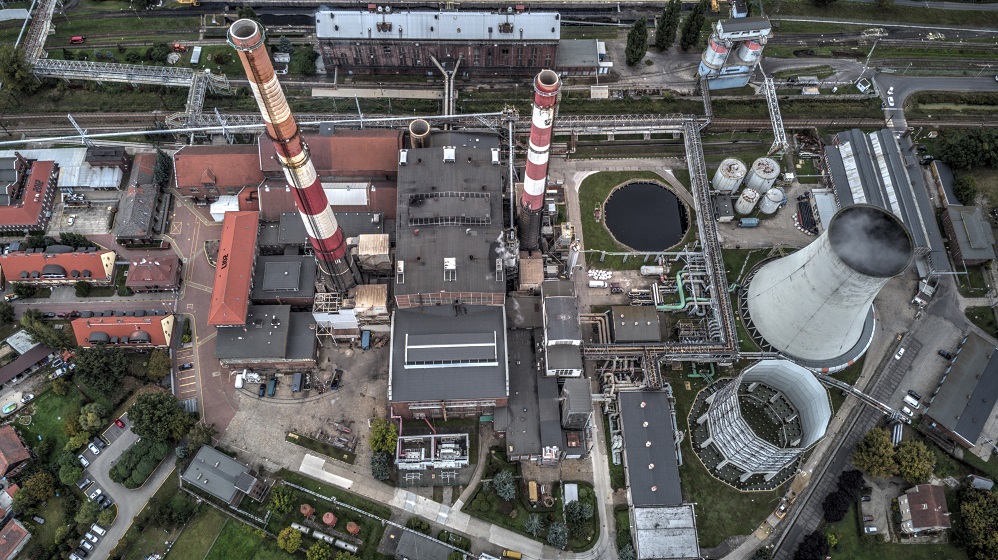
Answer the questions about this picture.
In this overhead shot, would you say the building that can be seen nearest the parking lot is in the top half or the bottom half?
bottom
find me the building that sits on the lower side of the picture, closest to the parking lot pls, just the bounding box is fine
[181,444,254,504]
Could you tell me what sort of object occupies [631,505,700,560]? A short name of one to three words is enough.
building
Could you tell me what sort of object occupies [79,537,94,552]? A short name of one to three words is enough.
car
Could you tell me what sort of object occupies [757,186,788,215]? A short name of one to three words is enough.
storage tank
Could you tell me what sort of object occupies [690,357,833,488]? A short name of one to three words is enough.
cooling tower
